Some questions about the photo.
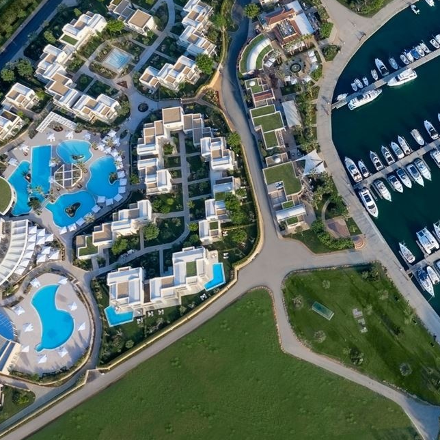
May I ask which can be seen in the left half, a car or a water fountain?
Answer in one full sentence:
It is a water fountain that can be seen in the left half.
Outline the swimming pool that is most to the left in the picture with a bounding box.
[6,158,32,217]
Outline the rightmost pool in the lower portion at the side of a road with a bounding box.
[203,262,226,290]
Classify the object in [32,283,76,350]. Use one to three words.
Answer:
swimming pool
